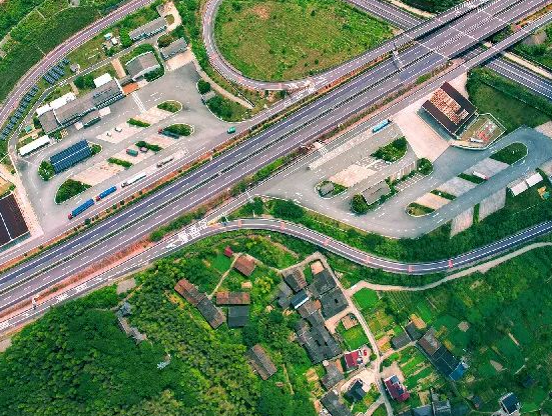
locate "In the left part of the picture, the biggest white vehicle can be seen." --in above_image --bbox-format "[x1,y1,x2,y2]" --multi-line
[120,171,147,187]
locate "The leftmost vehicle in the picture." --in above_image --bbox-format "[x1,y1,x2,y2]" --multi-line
[65,199,95,218]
